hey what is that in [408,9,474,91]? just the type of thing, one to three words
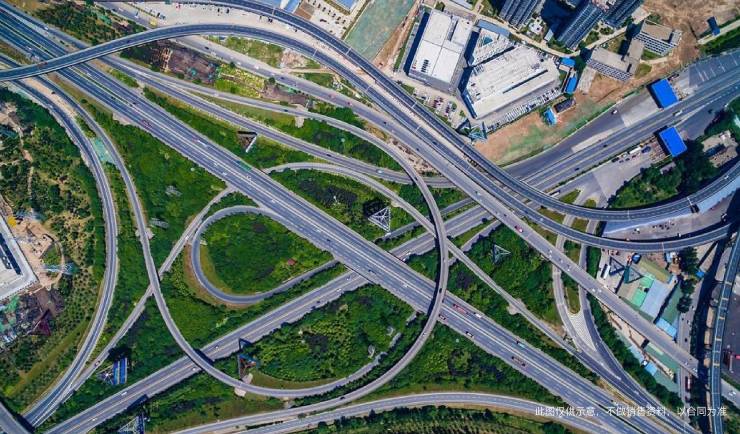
building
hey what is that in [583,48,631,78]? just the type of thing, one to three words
building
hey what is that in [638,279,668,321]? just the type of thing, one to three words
shed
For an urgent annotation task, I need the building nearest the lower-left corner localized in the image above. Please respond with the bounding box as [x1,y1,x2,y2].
[0,200,47,303]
